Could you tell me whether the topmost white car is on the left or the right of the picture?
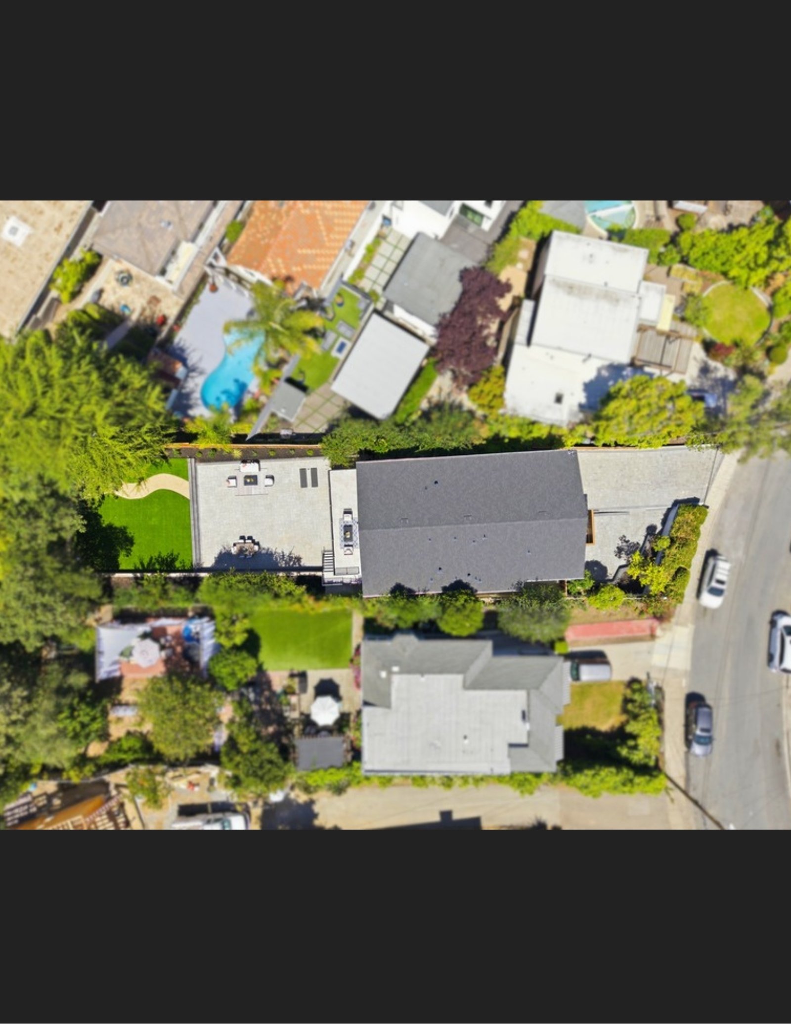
right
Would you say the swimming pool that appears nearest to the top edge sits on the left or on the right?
right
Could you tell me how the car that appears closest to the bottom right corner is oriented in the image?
up and down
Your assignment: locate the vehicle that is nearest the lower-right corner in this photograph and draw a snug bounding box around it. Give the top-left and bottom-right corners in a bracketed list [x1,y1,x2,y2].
[686,700,716,757]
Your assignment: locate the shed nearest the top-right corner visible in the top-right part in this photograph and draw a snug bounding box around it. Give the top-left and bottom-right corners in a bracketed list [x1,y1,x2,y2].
[663,200,708,224]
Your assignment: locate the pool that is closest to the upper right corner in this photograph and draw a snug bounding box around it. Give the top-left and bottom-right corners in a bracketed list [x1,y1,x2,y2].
[584,199,639,232]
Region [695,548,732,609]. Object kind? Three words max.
car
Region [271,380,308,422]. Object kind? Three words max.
shed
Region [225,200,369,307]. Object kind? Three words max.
house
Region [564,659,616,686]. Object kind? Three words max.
car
